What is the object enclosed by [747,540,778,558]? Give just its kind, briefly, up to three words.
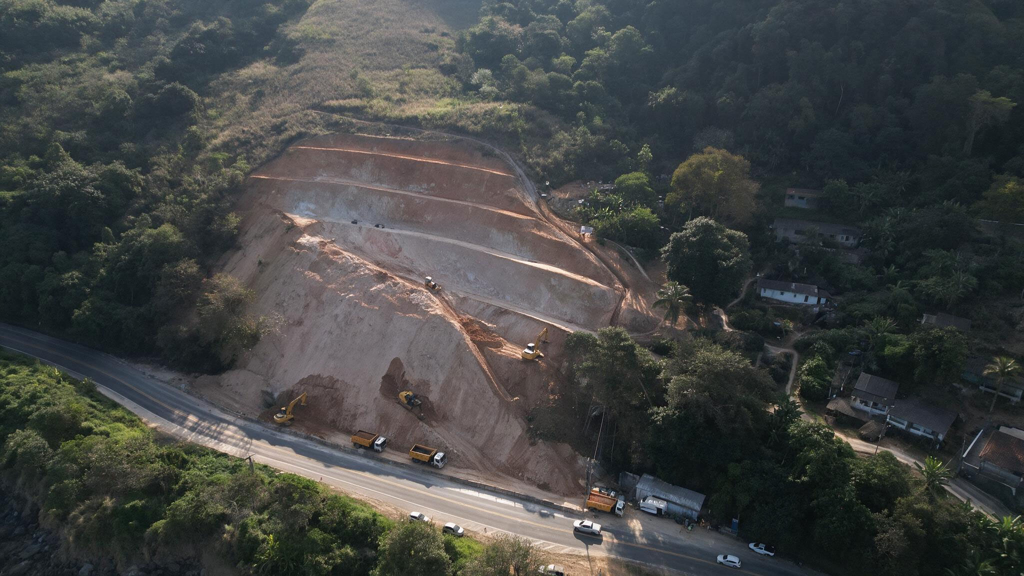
vehicle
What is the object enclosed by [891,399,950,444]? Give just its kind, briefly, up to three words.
house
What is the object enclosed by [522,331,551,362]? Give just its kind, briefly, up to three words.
work vehicle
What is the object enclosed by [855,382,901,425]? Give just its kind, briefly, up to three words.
house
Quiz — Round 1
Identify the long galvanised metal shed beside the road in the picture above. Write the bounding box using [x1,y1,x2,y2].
[637,473,705,523]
